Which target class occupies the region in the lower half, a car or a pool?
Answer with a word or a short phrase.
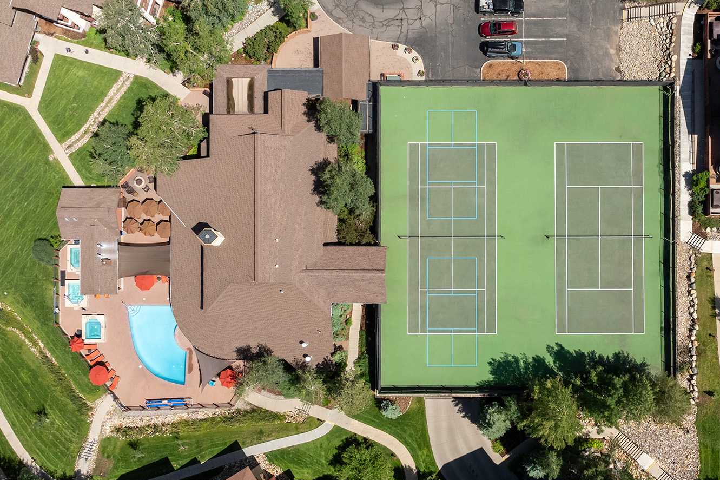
pool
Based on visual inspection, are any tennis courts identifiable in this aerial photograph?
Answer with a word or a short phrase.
Yes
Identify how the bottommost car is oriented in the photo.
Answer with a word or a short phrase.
from side to side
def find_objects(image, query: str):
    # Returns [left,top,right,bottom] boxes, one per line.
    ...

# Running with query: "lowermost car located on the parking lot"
[481,38,521,58]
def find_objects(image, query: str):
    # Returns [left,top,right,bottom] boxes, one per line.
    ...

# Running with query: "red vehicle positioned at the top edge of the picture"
[479,17,517,38]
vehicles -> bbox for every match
[481,38,521,58]
[478,0,524,14]
[479,17,517,38]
